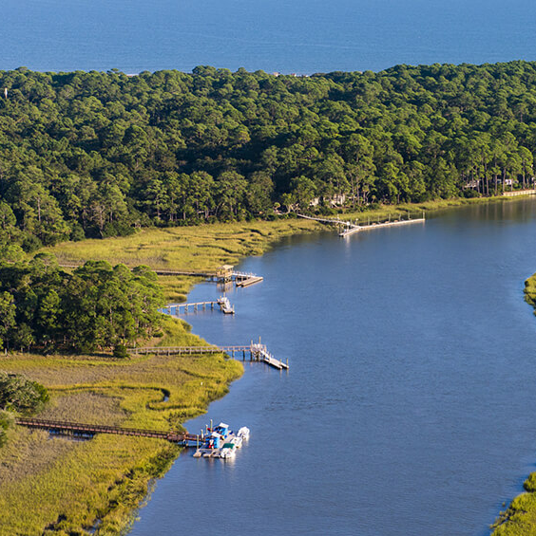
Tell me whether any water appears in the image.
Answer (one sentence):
Yes, water can be seen from above here.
